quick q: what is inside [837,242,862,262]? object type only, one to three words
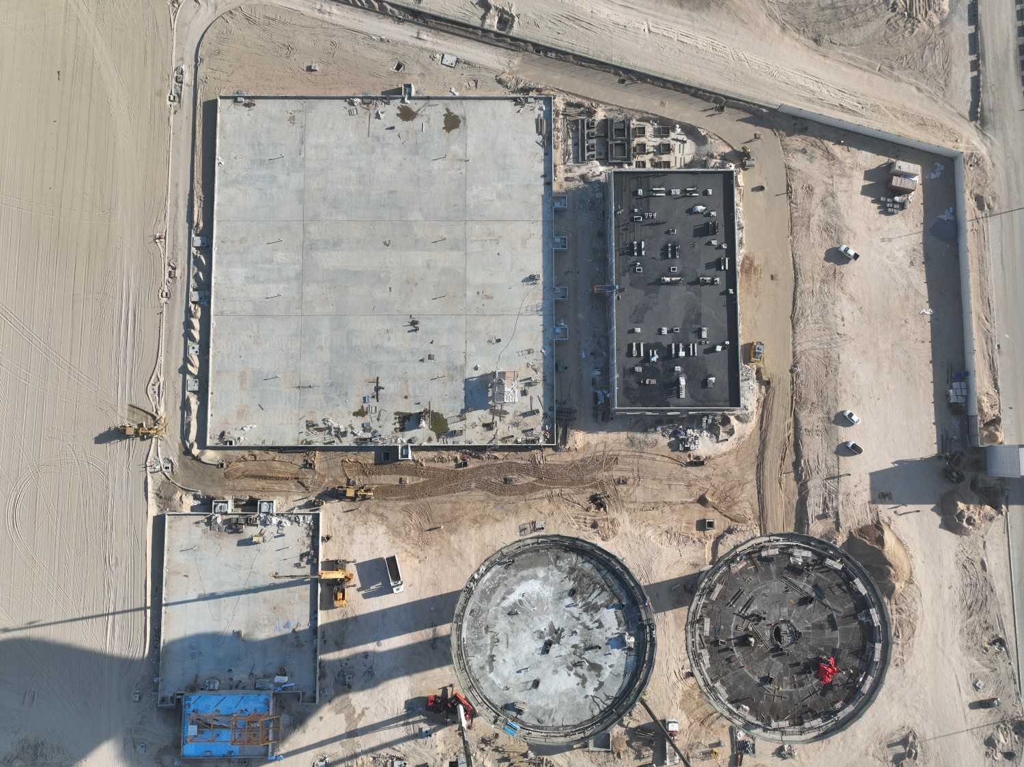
vehicle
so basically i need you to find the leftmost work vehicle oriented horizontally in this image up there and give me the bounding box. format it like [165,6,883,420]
[118,422,162,438]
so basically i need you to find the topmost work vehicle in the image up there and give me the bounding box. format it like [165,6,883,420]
[743,149,755,168]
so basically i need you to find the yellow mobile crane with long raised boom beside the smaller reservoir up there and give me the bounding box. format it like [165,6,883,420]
[270,557,356,608]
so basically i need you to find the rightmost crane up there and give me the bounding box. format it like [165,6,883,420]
[636,694,690,767]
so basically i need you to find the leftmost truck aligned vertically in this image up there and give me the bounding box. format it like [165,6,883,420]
[383,556,404,597]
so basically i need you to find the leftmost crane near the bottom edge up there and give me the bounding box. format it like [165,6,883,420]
[420,686,473,767]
